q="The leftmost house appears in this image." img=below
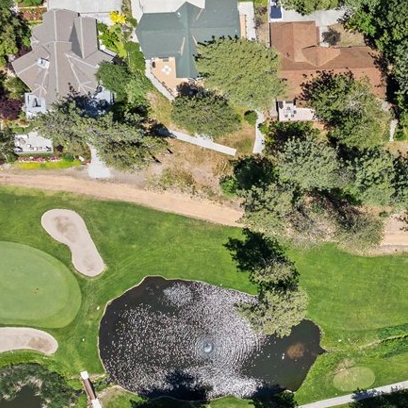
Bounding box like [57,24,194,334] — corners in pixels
[12,9,118,117]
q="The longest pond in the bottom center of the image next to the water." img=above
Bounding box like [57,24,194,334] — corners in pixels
[100,276,324,399]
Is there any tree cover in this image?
Yes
